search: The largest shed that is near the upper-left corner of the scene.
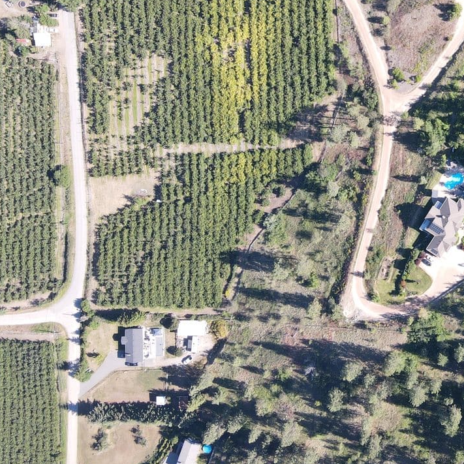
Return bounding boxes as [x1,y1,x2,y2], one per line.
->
[33,32,55,47]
